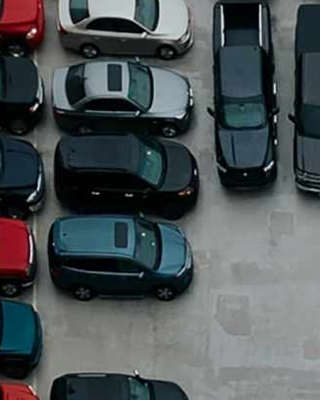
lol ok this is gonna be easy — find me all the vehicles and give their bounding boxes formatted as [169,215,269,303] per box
[55,0,196,59]
[48,371,190,400]
[51,130,201,218]
[0,222,40,297]
[208,2,279,190]
[49,53,196,136]
[45,214,196,300]
[0,58,46,135]
[0,303,44,378]
[289,6,320,196]
[0,0,46,58]
[0,133,49,217]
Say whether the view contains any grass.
No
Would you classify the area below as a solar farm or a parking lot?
parking lot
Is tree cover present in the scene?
No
